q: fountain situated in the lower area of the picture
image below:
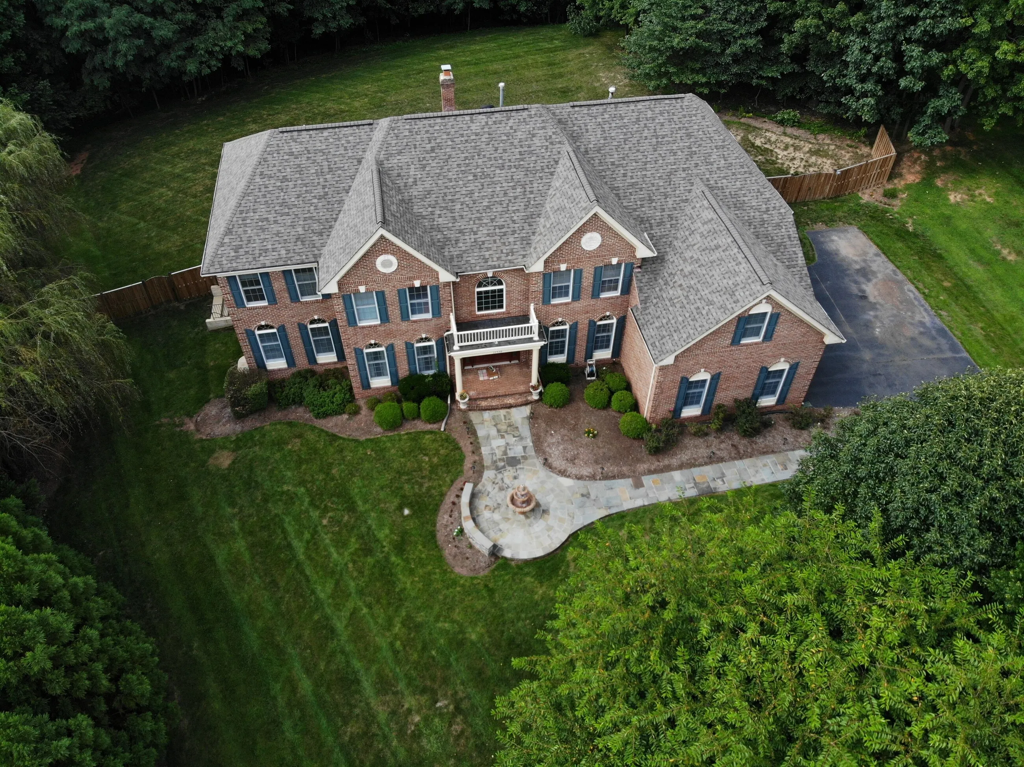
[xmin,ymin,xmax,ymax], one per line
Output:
[507,485,537,516]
